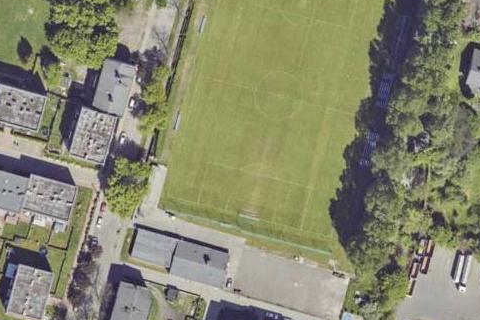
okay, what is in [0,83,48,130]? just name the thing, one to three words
building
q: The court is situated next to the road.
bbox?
[231,246,348,320]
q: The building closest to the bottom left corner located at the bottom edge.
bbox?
[5,264,54,320]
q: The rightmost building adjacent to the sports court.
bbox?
[170,240,229,287]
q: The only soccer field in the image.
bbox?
[161,0,393,243]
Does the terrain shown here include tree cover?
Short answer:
Yes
